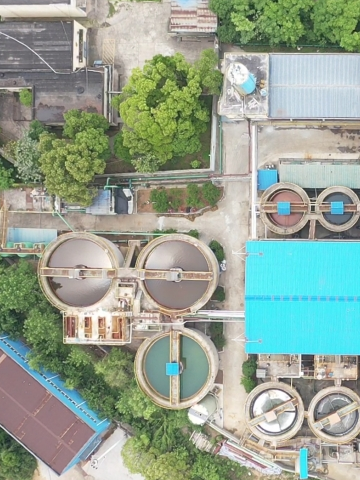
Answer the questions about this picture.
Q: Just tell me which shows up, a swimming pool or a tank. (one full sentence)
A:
This aerial view contains a tank.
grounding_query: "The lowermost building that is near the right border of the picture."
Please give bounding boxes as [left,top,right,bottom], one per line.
[244,240,360,356]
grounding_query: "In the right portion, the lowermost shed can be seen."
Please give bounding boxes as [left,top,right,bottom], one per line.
[217,436,273,480]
